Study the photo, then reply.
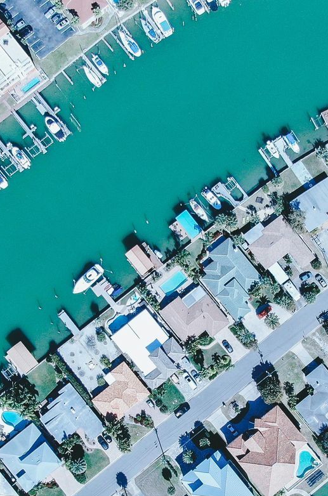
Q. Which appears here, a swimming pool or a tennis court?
swimming pool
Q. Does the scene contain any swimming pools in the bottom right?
Yes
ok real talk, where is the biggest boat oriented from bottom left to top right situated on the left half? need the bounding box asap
[72,259,107,294]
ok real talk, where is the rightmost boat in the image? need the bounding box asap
[284,132,298,152]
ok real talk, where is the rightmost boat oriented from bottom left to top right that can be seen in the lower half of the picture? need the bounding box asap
[127,291,143,304]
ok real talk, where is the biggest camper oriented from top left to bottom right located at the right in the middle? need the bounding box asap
[283,280,301,303]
